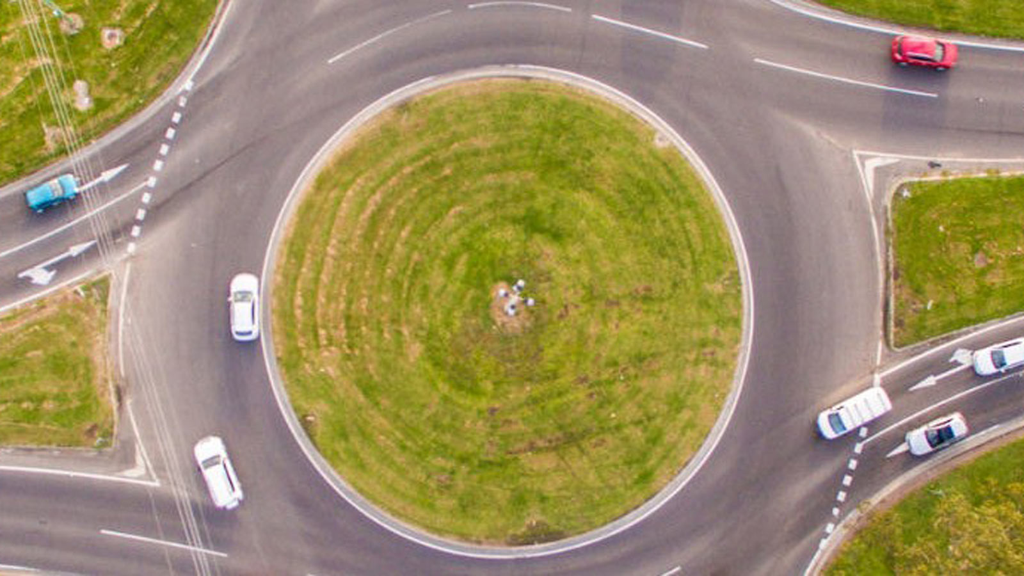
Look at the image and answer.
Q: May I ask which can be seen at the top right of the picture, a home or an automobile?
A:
automobile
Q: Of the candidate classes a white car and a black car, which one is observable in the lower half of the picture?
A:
white car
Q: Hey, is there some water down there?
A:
No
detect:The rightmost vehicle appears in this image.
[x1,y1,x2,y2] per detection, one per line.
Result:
[969,332,1024,372]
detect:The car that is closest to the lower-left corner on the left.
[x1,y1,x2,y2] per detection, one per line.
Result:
[198,435,245,512]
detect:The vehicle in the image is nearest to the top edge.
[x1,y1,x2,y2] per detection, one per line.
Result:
[890,38,958,70]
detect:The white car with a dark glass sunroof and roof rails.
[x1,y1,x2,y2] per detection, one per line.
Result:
[904,411,965,452]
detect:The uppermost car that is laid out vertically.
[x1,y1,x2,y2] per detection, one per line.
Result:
[227,273,261,341]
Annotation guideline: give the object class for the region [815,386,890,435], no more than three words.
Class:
van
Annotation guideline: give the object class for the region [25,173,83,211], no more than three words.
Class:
car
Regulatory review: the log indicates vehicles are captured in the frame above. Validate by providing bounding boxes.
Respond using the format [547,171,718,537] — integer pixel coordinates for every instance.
[227,273,261,341]
[25,173,83,211]
[815,386,890,435]
[890,38,958,70]
[969,332,1024,372]
[198,435,245,512]
[904,411,965,452]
